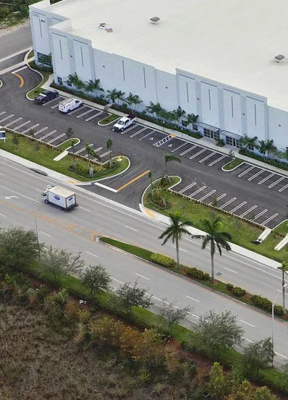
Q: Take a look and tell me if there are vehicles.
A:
Yes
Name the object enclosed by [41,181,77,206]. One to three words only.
truck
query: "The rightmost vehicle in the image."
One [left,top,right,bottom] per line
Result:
[112,115,138,132]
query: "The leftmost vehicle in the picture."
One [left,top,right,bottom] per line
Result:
[30,89,57,103]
